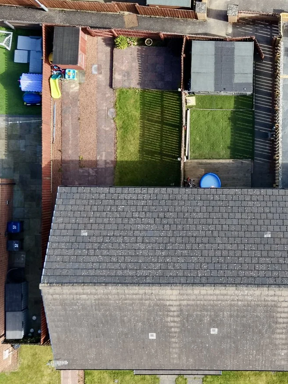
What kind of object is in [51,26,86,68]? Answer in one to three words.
shed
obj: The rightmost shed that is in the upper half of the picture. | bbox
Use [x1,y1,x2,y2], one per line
[190,39,254,97]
